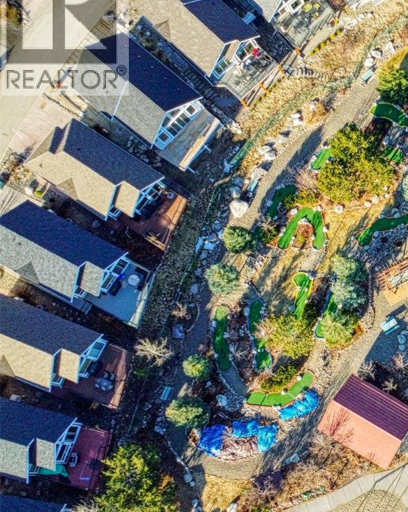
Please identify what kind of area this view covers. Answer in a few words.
residential area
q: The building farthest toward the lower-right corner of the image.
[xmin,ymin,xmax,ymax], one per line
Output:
[319,375,408,469]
